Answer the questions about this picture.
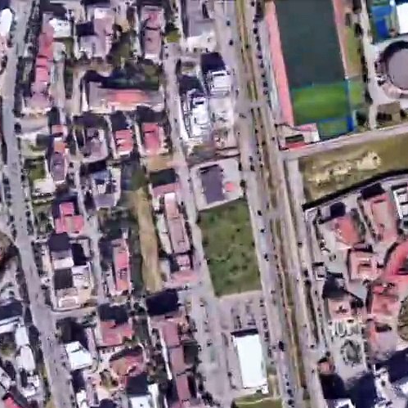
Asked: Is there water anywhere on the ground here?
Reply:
No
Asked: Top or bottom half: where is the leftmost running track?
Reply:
top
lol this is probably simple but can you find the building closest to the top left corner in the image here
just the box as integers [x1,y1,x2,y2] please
[0,9,13,41]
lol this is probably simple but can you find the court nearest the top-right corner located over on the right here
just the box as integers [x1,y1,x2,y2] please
[373,0,396,40]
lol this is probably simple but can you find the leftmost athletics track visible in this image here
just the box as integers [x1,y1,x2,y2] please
[264,0,293,124]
